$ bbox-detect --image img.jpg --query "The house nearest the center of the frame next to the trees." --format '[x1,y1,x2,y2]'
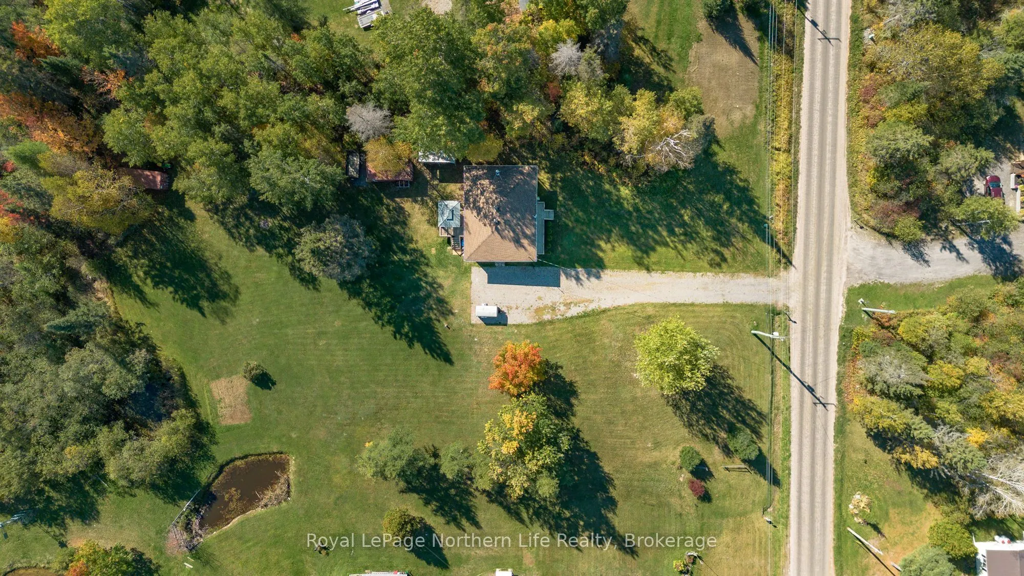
[464,165,538,262]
